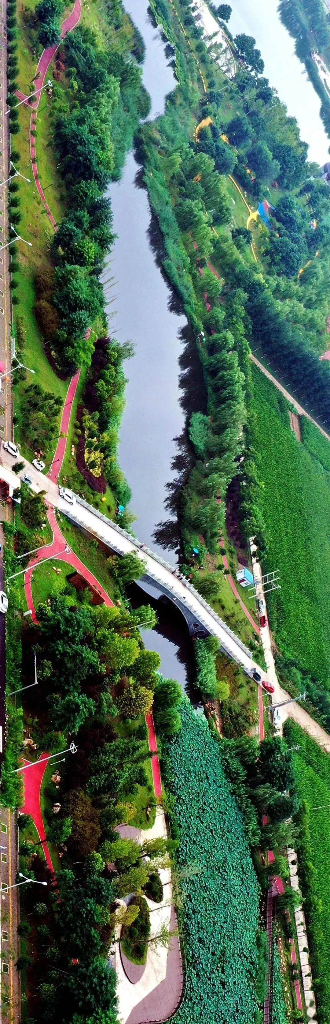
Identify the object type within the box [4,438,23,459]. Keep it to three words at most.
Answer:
car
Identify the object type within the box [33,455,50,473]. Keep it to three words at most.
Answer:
car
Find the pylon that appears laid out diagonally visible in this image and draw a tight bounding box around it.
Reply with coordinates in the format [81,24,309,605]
[248,569,282,599]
